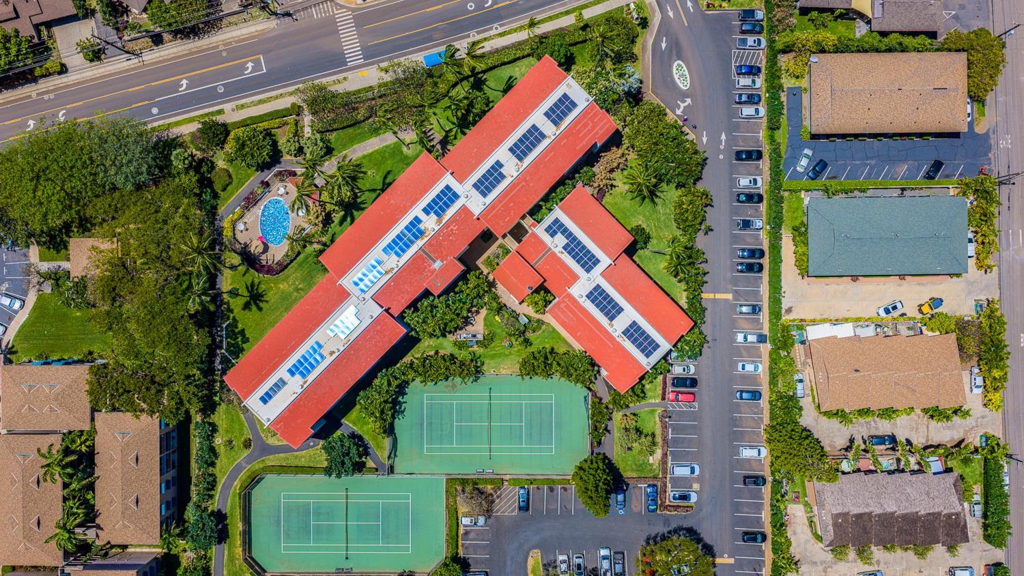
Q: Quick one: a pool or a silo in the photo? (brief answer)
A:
pool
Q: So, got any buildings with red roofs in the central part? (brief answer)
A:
Yes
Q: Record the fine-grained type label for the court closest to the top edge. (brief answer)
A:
tennis court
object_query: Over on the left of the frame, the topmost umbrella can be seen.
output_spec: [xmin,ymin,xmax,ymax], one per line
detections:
[250,238,264,252]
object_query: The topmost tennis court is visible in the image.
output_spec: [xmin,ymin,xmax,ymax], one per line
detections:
[390,376,591,474]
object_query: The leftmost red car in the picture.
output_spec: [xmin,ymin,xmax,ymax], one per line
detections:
[668,391,694,404]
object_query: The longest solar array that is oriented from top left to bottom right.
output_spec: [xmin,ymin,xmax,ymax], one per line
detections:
[542,217,599,274]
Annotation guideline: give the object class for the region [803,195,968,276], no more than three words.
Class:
building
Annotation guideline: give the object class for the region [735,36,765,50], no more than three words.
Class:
vehicle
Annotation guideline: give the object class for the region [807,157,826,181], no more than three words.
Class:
car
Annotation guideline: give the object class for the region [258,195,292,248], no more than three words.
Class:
swimming pool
